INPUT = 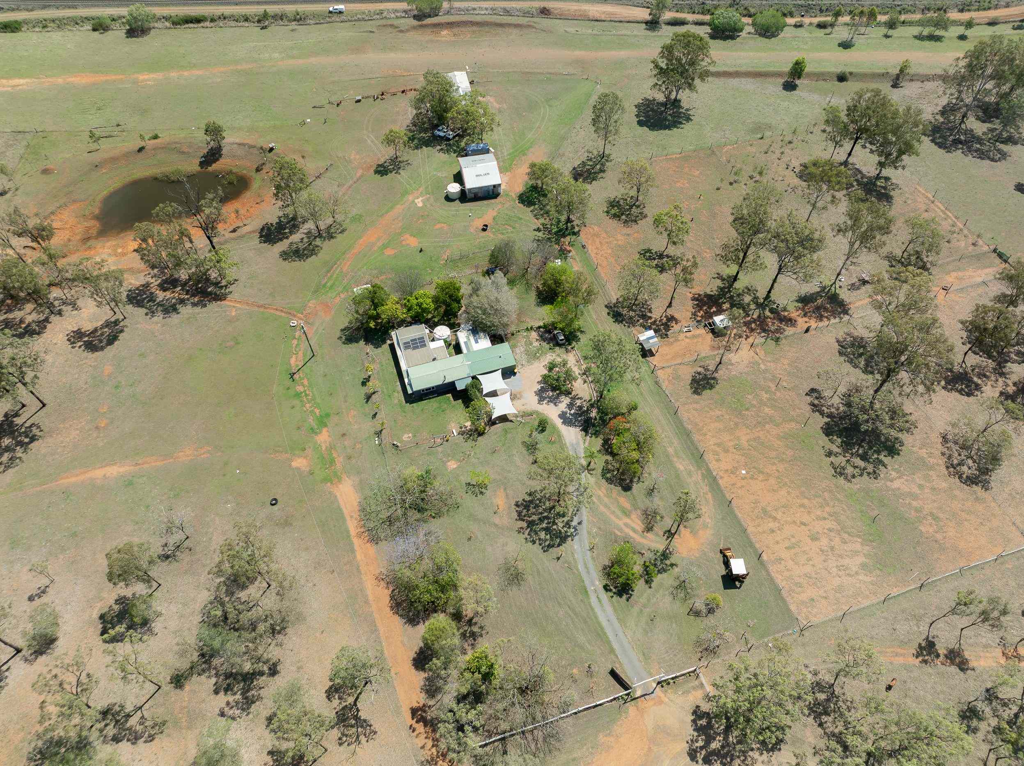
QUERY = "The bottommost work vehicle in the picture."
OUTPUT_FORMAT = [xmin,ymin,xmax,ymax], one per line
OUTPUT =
[723,551,748,591]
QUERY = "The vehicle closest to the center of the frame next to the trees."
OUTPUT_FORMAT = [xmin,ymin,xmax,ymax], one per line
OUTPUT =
[552,330,568,347]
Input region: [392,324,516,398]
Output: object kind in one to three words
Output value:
house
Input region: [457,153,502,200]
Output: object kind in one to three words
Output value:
shed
